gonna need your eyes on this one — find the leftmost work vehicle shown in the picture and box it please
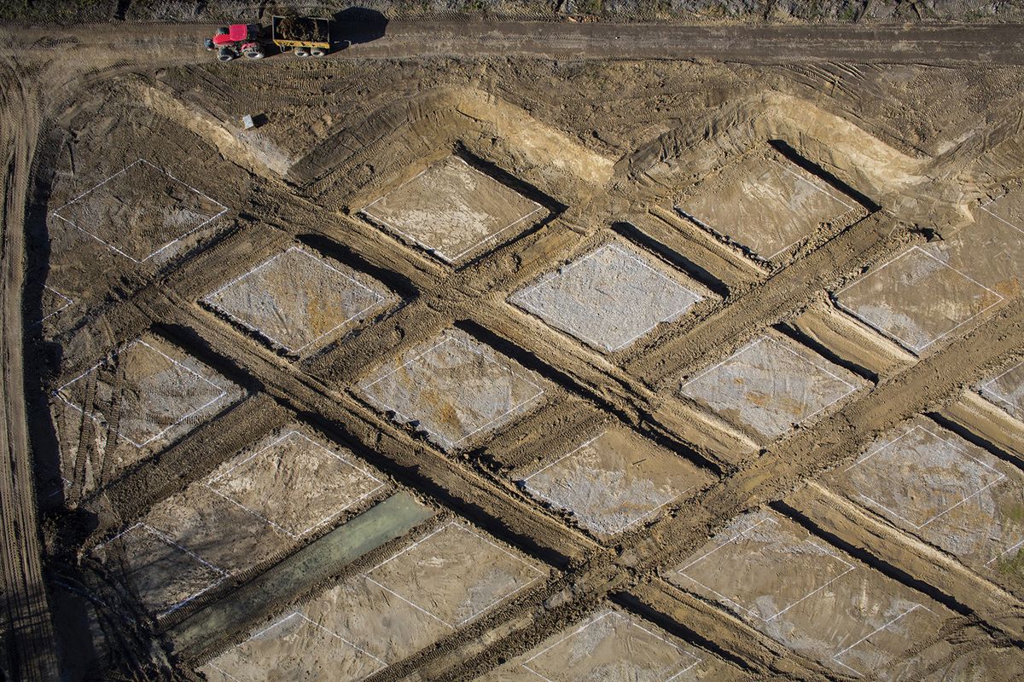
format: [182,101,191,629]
[209,23,267,59]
